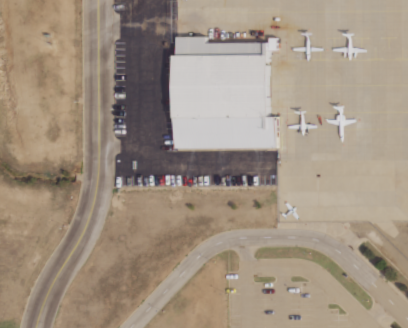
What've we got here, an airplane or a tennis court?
airplane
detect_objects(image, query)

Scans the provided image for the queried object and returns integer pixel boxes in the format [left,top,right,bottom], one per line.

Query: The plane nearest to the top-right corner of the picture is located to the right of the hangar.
[331,32,367,60]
